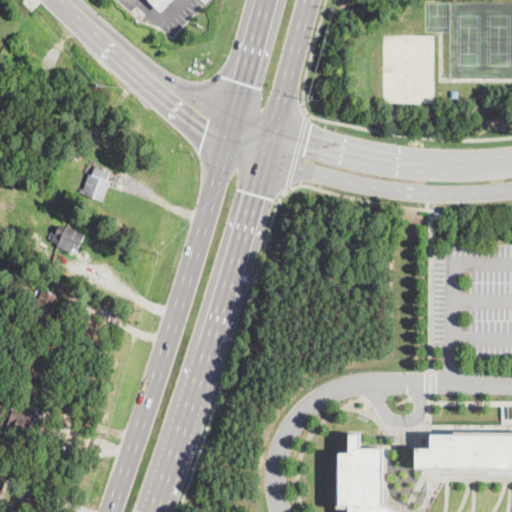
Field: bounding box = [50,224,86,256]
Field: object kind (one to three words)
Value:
house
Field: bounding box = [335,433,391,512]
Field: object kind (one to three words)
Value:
building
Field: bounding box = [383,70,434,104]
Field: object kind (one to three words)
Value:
sports court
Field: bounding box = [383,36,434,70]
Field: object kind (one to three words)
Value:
sports court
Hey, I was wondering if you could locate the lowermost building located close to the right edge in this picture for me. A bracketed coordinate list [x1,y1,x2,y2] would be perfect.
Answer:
[414,432,512,471]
